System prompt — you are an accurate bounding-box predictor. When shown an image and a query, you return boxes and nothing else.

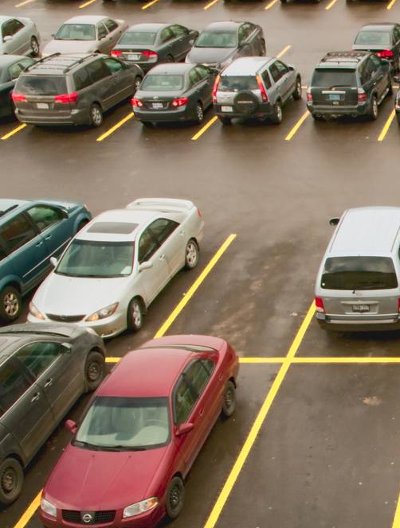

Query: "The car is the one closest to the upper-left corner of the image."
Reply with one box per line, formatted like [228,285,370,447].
[0,16,43,61]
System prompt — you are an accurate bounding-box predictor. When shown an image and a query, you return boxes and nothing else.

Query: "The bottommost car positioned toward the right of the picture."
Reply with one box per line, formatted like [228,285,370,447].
[315,205,400,335]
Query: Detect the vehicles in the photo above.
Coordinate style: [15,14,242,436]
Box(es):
[131,64,217,124]
[0,200,86,319]
[111,23,197,71]
[16,52,141,128]
[31,200,205,337]
[0,16,43,61]
[185,17,265,72]
[351,22,400,70]
[212,57,301,124]
[42,340,240,528]
[308,52,392,122]
[0,335,107,488]
[315,205,400,335]
[0,58,34,99]
[41,15,128,63]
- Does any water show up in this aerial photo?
No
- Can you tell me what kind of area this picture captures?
parking lot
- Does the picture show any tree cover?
No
